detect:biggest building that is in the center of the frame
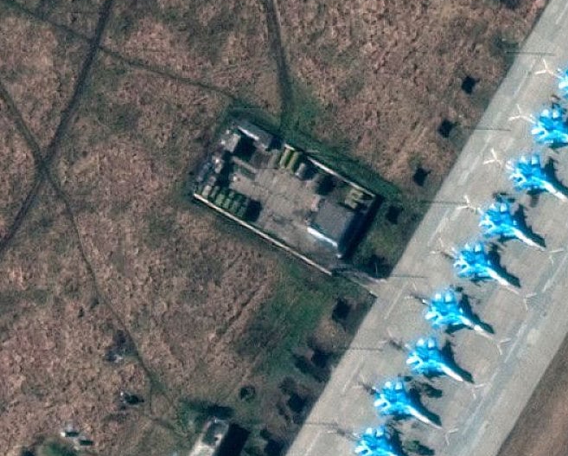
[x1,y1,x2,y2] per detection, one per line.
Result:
[307,200,354,246]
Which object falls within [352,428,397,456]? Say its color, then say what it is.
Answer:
blue airplane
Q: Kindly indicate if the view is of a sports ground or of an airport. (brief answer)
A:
airport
